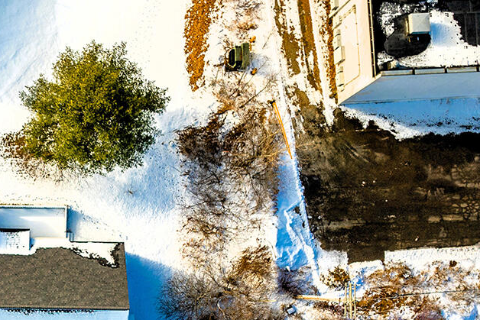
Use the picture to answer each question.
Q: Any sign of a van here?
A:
No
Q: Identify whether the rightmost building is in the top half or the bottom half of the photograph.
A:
top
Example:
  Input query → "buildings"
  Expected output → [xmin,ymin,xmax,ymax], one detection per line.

[0,228,134,320]
[320,0,480,101]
